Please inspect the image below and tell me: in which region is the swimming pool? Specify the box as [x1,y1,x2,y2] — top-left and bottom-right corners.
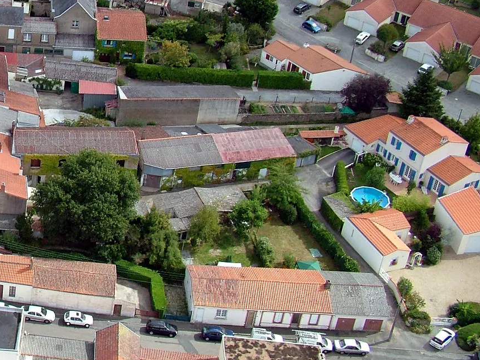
[349,184,397,210]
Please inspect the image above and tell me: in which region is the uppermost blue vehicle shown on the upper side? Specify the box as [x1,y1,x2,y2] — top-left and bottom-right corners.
[302,19,321,33]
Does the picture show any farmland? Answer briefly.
No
